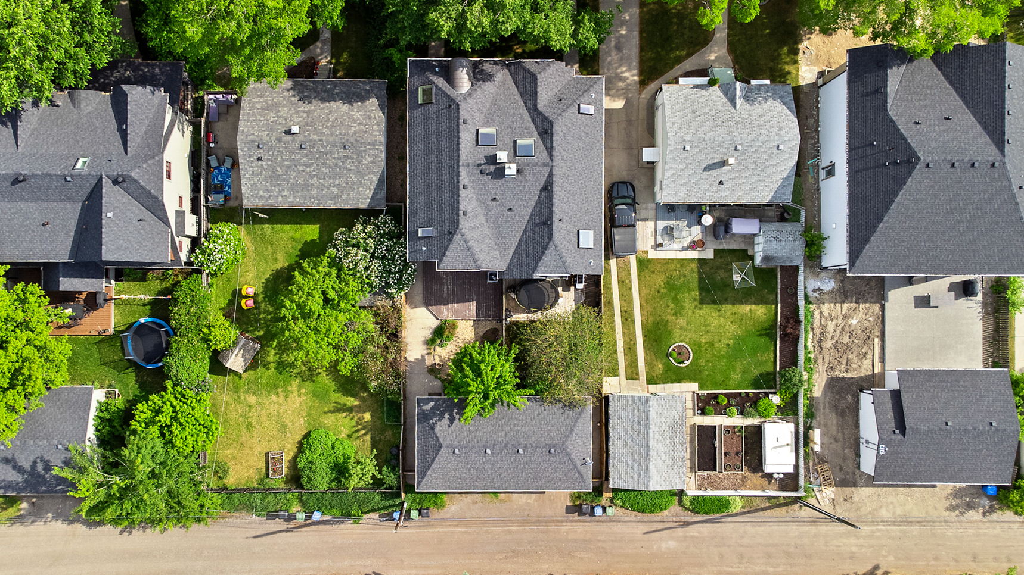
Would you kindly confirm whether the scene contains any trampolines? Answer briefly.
Yes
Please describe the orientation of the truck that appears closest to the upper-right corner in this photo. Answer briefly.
up and down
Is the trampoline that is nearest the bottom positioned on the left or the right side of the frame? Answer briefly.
left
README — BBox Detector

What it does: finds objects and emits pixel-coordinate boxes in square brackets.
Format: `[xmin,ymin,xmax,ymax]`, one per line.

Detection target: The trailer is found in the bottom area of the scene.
[759,421,794,485]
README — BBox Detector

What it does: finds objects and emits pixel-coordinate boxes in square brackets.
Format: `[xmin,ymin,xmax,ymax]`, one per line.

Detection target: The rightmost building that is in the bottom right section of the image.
[860,368,1020,486]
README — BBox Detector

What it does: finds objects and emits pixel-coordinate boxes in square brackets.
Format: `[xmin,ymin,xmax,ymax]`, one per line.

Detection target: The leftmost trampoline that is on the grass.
[116,317,171,368]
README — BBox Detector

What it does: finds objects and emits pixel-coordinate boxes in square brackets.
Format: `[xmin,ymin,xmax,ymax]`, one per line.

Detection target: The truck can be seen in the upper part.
[607,181,640,258]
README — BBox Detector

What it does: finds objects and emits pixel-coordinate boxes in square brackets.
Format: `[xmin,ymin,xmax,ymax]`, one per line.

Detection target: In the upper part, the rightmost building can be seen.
[817,37,1024,276]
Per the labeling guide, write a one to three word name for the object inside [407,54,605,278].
house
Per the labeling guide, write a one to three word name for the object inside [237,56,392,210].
house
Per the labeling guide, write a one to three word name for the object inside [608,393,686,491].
building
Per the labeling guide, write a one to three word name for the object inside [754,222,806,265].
shed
